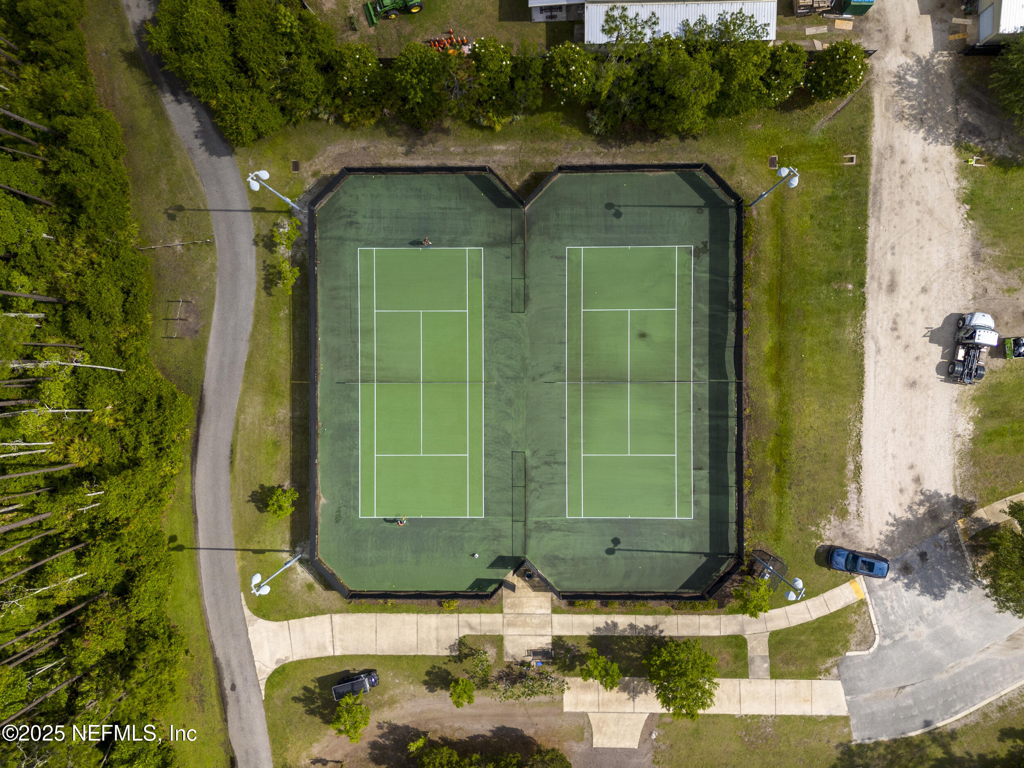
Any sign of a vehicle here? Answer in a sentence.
Yes, you can see a vehicle in this photo.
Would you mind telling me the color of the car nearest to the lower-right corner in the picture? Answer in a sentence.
In this view, the car nearest to the lower-right corner is blue.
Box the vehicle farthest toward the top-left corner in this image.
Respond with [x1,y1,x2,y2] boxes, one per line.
[370,0,424,27]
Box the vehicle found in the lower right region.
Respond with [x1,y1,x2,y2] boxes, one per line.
[825,549,893,579]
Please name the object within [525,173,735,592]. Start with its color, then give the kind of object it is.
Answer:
green tennis court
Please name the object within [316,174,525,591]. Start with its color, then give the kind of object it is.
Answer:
green tennis court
